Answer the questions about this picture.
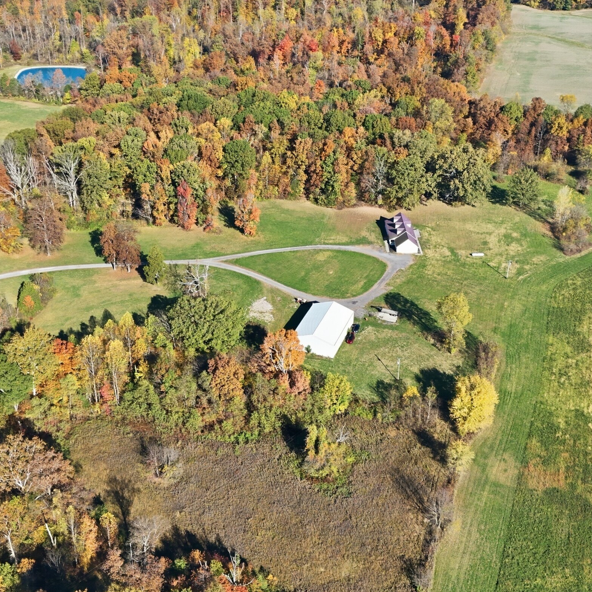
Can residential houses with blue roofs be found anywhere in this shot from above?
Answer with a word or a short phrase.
No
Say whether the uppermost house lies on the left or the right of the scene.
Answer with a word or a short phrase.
right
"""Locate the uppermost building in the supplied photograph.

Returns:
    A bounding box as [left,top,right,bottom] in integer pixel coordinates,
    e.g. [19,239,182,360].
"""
[383,211,419,253]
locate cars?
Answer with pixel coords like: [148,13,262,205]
[351,322,360,332]
[346,332,356,343]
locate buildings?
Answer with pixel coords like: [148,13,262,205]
[383,211,419,253]
[294,299,355,358]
